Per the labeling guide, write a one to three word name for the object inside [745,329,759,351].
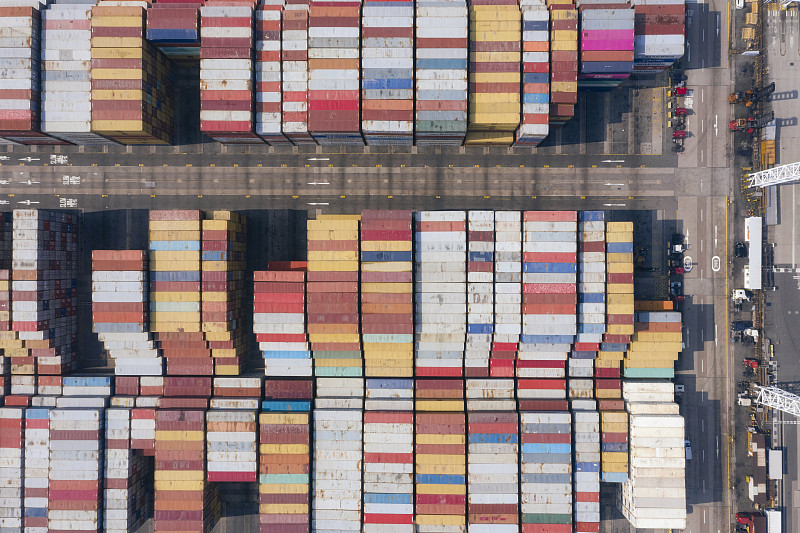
vehicle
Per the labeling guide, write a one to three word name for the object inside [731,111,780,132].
work vehicle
